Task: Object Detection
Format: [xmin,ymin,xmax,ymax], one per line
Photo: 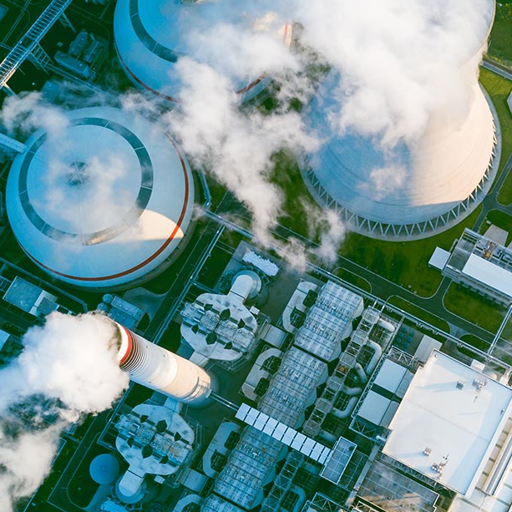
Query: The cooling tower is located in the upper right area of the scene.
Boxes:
[294,0,499,242]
